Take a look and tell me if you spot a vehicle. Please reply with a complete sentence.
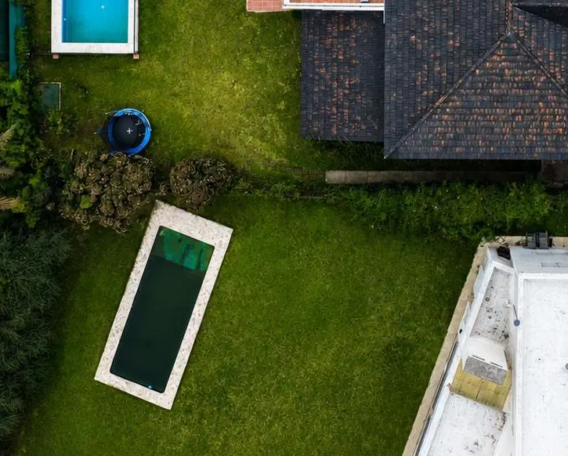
No, I find no vehicle anywhere in the image.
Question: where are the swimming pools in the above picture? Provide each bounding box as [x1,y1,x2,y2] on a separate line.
[52,0,141,61]
[95,202,233,409]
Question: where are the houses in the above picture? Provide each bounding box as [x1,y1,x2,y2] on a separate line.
[411,249,568,456]
[300,0,568,161]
